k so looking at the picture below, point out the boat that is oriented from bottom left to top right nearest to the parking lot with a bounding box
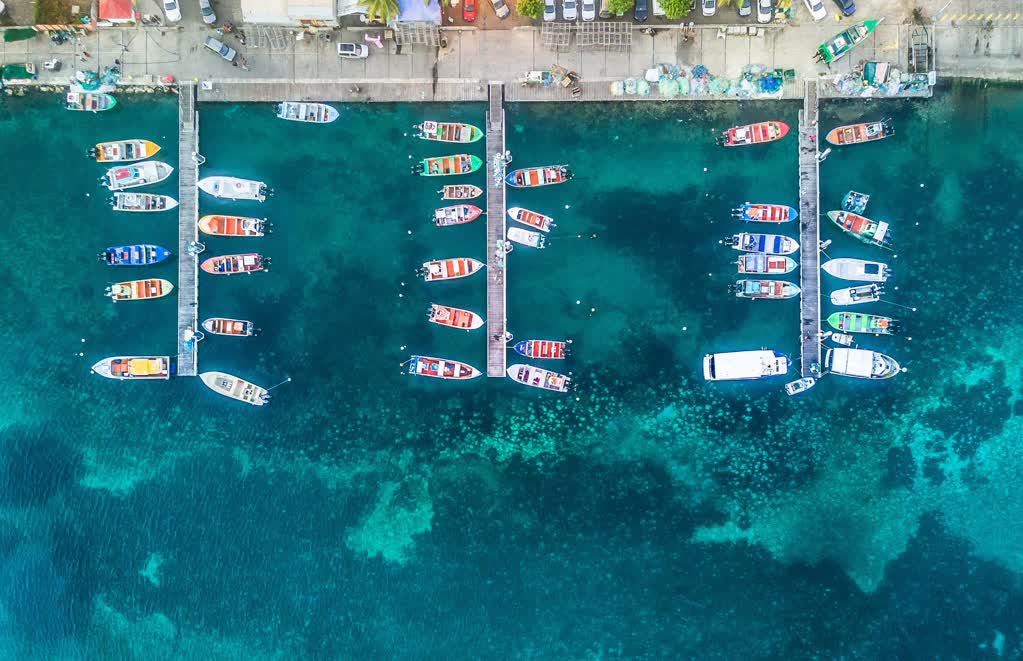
[816,17,888,62]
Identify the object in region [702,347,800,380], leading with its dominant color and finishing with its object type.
white vessel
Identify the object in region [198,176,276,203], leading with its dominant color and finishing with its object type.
white boat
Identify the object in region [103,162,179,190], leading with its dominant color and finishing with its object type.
white boat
